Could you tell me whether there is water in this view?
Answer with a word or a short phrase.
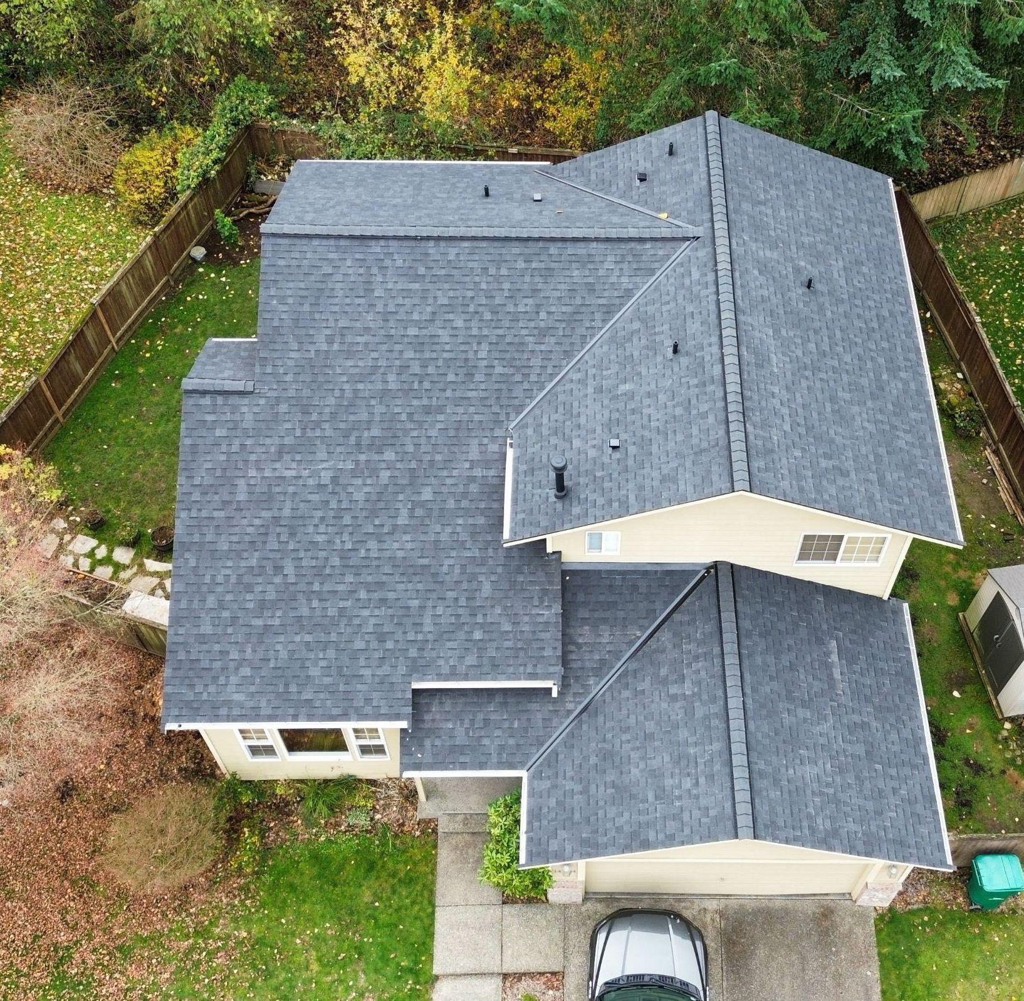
No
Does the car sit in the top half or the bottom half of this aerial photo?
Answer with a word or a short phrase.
bottom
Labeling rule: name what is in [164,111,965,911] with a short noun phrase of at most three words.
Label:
house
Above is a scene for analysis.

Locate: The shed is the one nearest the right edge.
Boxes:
[953,560,1024,724]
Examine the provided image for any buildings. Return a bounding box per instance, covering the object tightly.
[953,560,1024,724]
[164,111,965,911]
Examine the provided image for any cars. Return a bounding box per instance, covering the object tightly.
[589,904,708,1001]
